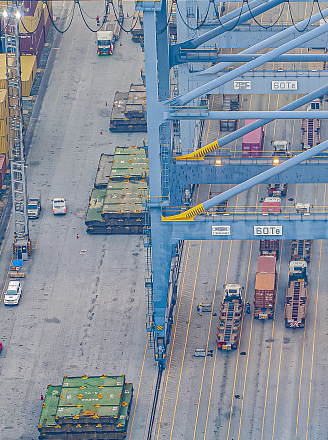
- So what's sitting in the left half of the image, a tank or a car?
car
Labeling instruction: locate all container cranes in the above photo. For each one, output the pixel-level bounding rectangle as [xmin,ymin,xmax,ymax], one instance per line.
[173,0,328,200]
[0,0,328,373]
